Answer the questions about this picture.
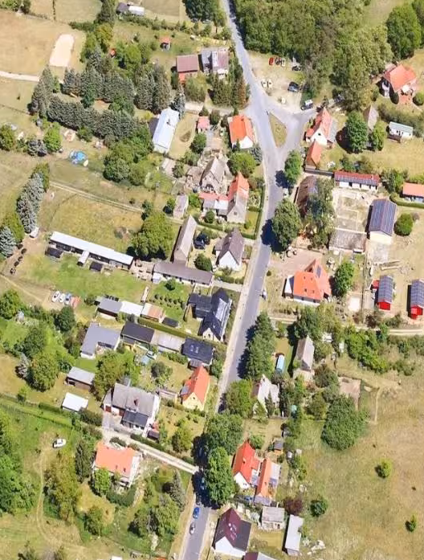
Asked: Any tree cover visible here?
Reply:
Yes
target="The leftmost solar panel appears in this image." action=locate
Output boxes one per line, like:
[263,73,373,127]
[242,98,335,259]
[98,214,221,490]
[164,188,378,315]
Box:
[124,412,147,427]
